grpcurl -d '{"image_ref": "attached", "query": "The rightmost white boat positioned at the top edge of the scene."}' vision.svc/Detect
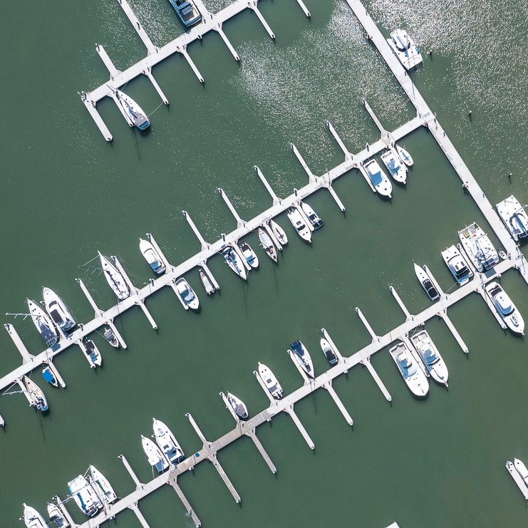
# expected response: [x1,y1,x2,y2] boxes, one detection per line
[391,26,431,72]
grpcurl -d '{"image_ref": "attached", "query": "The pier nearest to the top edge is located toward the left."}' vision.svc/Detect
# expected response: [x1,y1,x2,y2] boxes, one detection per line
[81,0,311,141]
